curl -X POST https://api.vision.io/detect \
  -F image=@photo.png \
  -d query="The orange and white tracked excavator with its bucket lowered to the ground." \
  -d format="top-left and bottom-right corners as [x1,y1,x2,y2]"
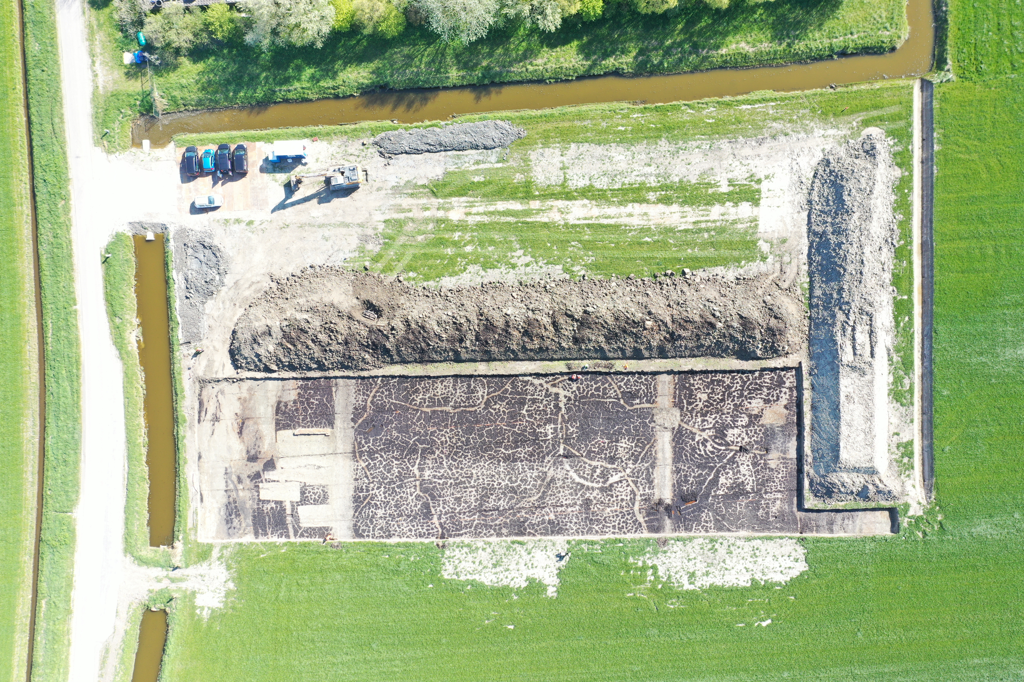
[291,163,366,190]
